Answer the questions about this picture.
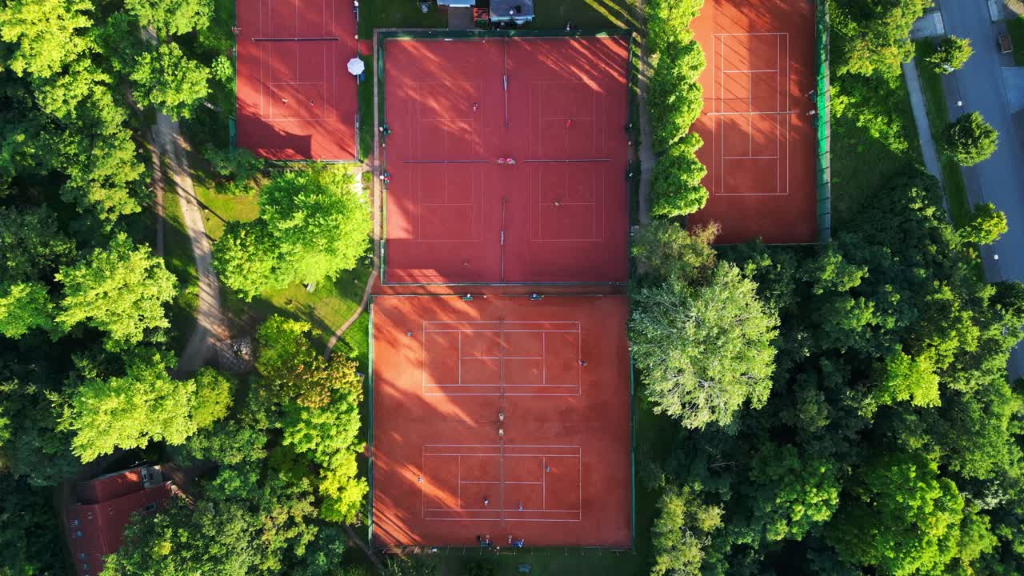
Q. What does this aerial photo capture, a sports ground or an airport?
sports ground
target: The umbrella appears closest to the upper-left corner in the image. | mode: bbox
[346,58,363,76]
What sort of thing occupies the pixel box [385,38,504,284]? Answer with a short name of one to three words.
tennis court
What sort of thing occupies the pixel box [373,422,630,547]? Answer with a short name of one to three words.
tennis court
